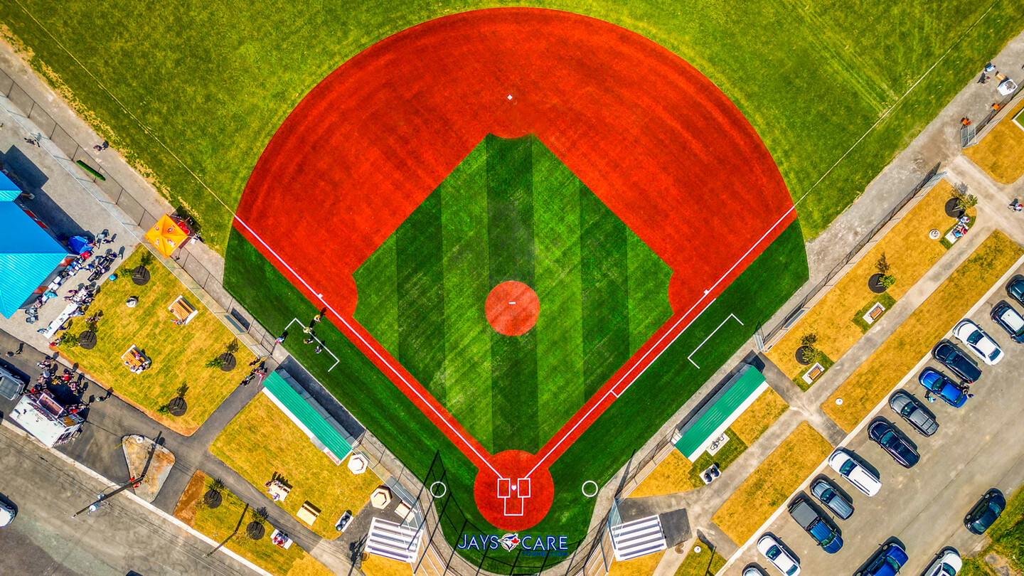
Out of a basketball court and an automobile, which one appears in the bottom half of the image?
automobile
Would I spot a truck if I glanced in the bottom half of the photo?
Yes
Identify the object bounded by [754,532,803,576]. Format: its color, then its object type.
white car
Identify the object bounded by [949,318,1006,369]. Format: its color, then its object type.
white car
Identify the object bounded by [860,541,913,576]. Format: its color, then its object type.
blue truck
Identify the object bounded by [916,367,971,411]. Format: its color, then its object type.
blue car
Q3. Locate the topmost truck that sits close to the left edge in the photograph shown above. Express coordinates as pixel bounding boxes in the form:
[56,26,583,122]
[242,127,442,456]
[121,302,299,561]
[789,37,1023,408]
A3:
[0,365,28,401]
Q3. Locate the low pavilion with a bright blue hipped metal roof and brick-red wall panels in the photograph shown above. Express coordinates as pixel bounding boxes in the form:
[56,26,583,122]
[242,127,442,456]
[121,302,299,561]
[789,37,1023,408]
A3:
[0,161,80,319]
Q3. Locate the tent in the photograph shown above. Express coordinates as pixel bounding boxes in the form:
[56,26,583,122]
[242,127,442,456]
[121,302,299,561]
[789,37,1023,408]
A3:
[145,214,202,259]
